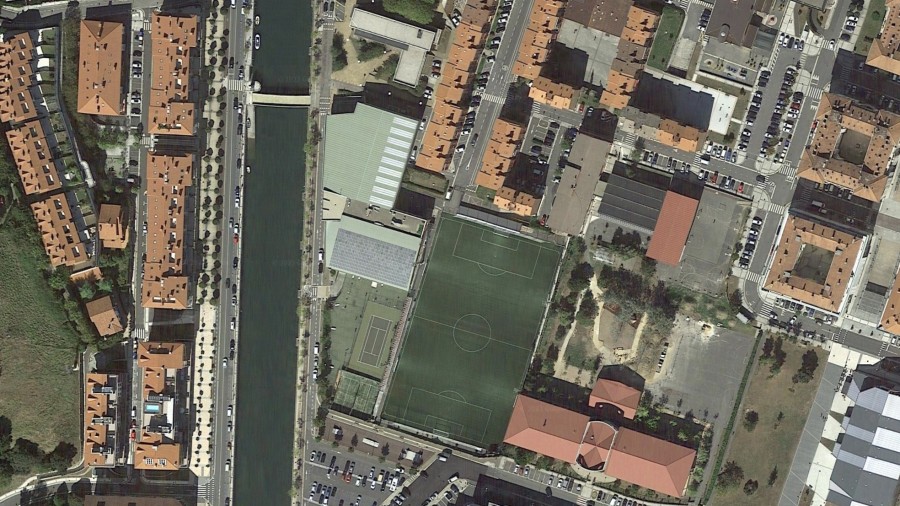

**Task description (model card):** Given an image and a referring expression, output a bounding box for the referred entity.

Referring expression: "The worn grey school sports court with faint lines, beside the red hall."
[687,191,737,264]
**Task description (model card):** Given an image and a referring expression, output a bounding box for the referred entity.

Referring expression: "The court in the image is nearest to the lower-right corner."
[669,311,751,398]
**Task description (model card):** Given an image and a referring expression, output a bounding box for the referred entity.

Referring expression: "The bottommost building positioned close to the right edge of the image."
[825,351,900,506]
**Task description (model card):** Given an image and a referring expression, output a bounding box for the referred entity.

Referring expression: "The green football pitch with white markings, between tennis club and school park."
[381,213,562,452]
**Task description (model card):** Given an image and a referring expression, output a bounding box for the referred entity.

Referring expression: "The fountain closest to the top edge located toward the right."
[763,11,780,28]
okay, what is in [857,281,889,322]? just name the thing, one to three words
building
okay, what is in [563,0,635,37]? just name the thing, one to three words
building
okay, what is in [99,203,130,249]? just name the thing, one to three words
house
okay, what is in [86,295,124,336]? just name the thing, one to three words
house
